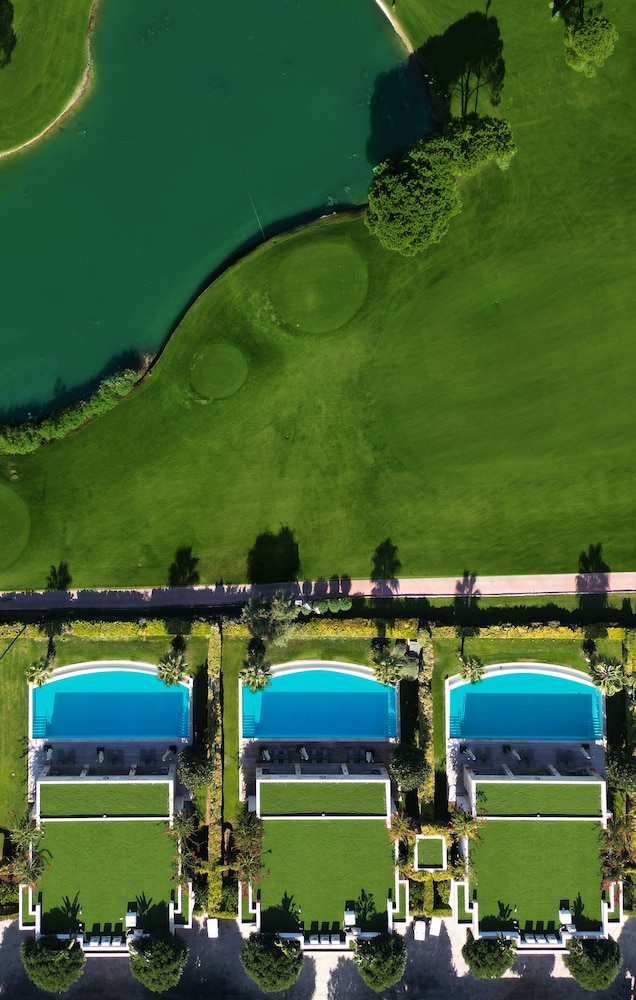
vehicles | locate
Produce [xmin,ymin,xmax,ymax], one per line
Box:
[206,914,219,938]
[413,914,426,939]
[427,914,442,938]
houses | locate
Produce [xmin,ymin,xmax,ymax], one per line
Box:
[238,764,409,956]
[451,764,627,956]
[20,764,196,956]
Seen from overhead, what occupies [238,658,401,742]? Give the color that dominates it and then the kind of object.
blue swimming pool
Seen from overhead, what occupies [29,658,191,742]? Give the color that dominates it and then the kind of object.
blue swimming pool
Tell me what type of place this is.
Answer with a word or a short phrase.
golf course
